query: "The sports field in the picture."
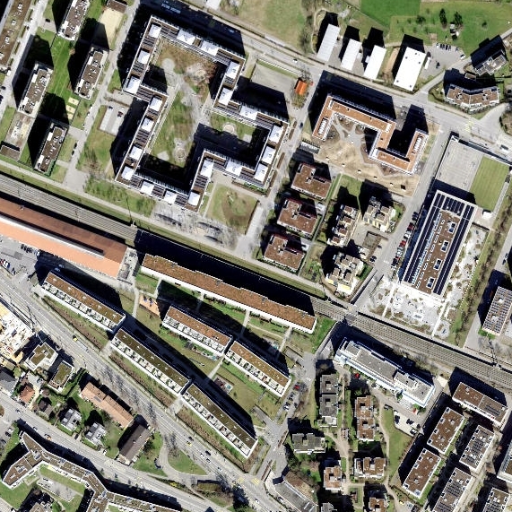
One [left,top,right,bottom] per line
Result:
[471,157,509,210]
